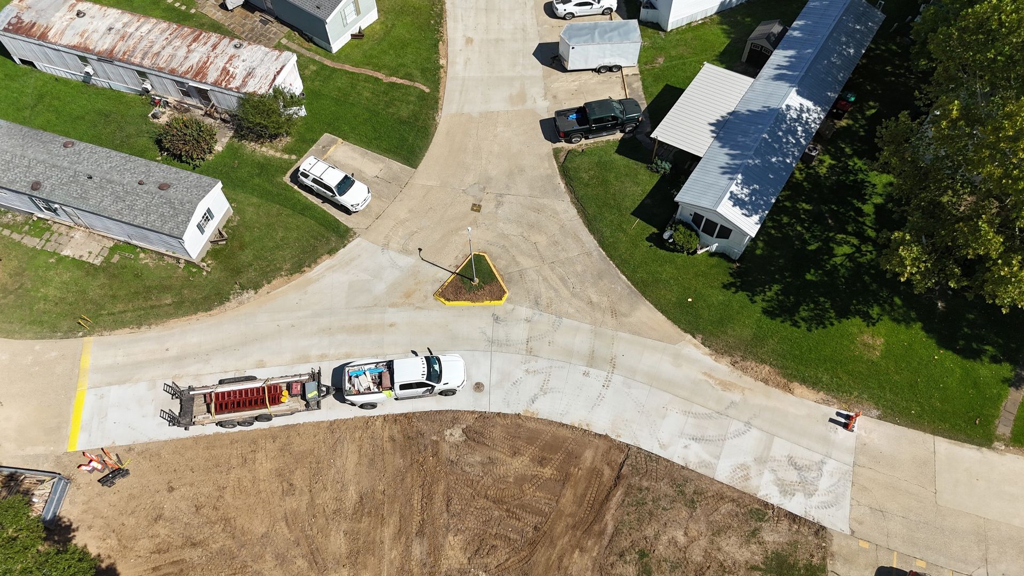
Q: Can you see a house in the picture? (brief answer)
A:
Yes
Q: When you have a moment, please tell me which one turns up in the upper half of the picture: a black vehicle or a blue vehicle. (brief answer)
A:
black vehicle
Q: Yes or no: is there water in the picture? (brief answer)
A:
No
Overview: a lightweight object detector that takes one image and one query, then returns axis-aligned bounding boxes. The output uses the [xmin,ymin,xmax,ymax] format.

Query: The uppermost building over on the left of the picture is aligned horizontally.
[247,0,380,54]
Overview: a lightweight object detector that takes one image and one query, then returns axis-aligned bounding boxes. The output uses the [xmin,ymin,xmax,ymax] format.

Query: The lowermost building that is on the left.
[0,121,232,262]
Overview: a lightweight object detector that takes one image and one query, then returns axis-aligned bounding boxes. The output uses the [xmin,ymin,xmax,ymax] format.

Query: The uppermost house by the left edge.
[0,0,310,123]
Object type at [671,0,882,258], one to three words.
house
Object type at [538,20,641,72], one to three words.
trailer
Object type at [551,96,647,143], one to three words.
truck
